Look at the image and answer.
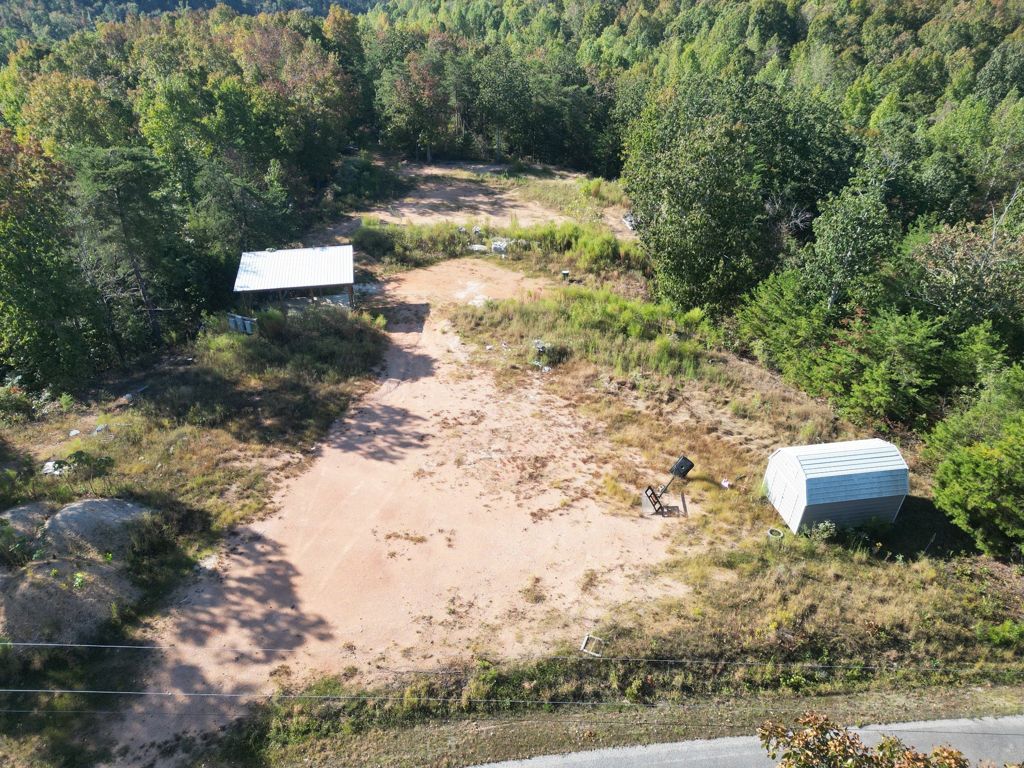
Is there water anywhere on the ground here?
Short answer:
No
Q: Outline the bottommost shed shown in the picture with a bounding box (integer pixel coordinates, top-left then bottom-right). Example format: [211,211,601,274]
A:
[762,434,912,535]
